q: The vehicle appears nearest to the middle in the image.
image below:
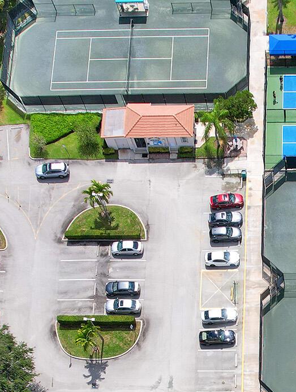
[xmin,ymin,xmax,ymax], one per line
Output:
[110,243,143,259]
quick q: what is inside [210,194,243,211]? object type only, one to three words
car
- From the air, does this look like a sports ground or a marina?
sports ground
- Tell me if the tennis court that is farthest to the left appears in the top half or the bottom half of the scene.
top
